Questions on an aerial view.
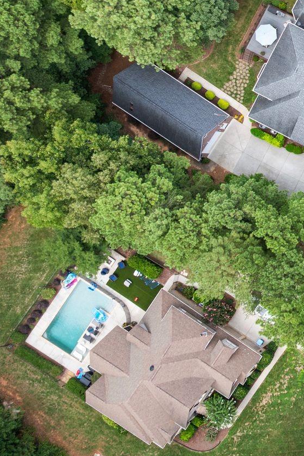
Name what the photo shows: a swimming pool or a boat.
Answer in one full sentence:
The image shows a swimming pool.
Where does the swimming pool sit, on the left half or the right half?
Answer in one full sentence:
The swimming pool is on the left side of the image.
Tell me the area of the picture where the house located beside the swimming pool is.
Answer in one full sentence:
Look in the bottom portion of the view to spot the house located beside the swimming pool.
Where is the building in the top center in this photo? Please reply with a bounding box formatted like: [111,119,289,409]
[112,61,233,160]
